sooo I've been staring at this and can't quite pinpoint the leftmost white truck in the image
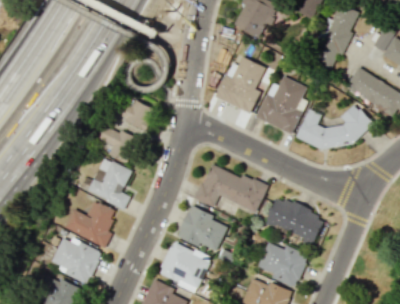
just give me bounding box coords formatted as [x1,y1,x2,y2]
[28,108,61,146]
